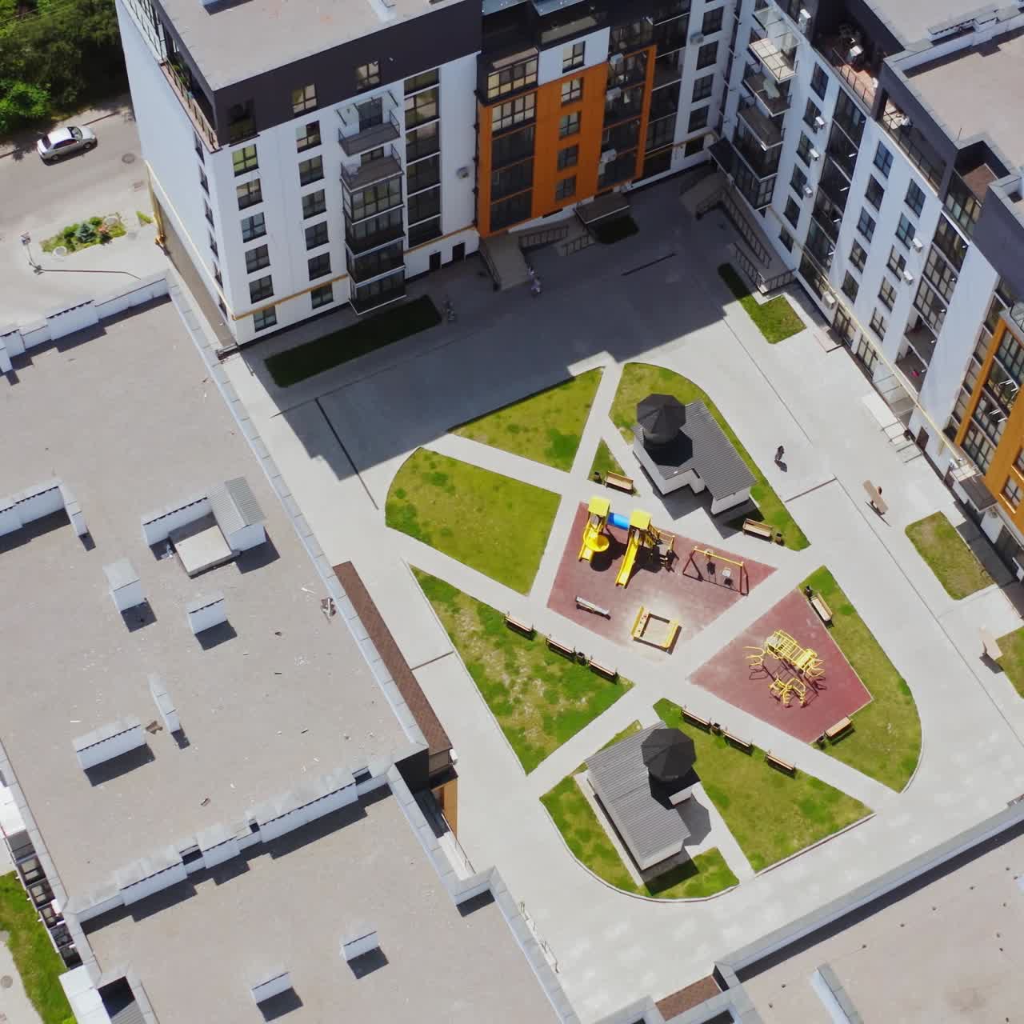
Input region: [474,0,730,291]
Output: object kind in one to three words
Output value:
building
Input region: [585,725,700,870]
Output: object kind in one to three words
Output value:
shed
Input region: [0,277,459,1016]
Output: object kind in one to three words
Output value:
building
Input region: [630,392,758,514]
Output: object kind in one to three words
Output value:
shed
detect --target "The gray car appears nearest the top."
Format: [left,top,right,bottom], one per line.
[34,123,96,161]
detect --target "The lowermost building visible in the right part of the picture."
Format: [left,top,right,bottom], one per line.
[596,799,1024,1024]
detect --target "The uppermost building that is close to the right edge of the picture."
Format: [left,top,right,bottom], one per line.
[685,0,1024,587]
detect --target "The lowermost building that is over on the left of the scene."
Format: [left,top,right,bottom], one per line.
[63,758,582,1024]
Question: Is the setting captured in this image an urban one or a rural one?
urban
